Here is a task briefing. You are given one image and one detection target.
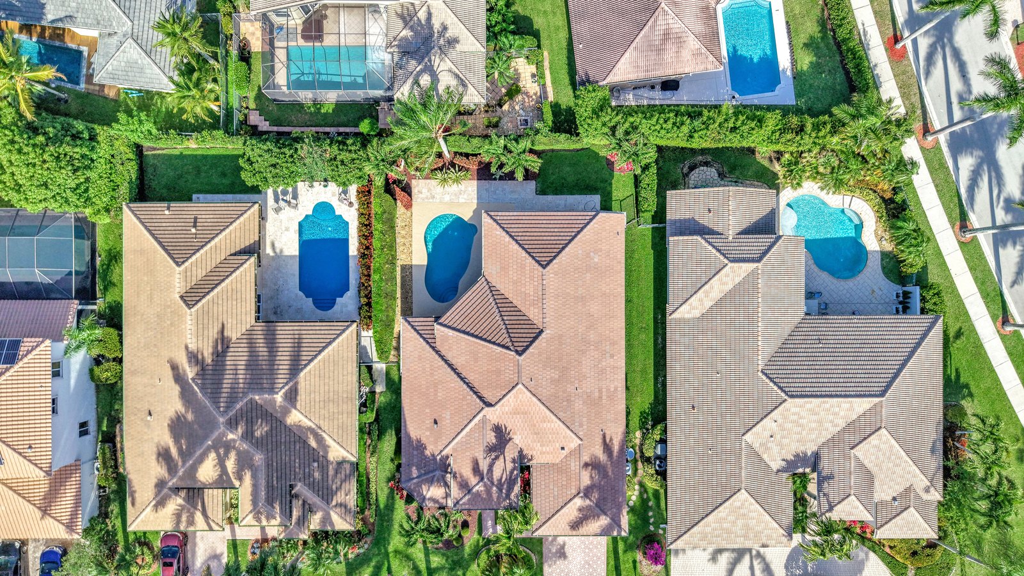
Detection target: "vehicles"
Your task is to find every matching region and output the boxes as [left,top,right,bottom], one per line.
[0,542,30,576]
[159,533,192,576]
[38,544,68,576]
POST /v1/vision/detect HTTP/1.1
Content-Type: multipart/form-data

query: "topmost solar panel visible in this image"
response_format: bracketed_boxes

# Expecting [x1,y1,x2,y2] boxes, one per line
[0,339,26,374]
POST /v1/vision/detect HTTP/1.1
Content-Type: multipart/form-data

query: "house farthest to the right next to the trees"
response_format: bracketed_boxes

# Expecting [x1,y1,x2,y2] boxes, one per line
[665,187,946,550]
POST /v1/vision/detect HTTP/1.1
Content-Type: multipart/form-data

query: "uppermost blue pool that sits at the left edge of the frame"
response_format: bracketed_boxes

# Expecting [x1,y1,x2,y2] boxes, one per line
[0,30,87,91]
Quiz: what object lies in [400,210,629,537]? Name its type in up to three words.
house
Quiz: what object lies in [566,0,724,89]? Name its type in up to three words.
house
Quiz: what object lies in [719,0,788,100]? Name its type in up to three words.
swimming pool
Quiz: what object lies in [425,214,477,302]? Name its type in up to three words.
swimming pool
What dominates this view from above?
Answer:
buildings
